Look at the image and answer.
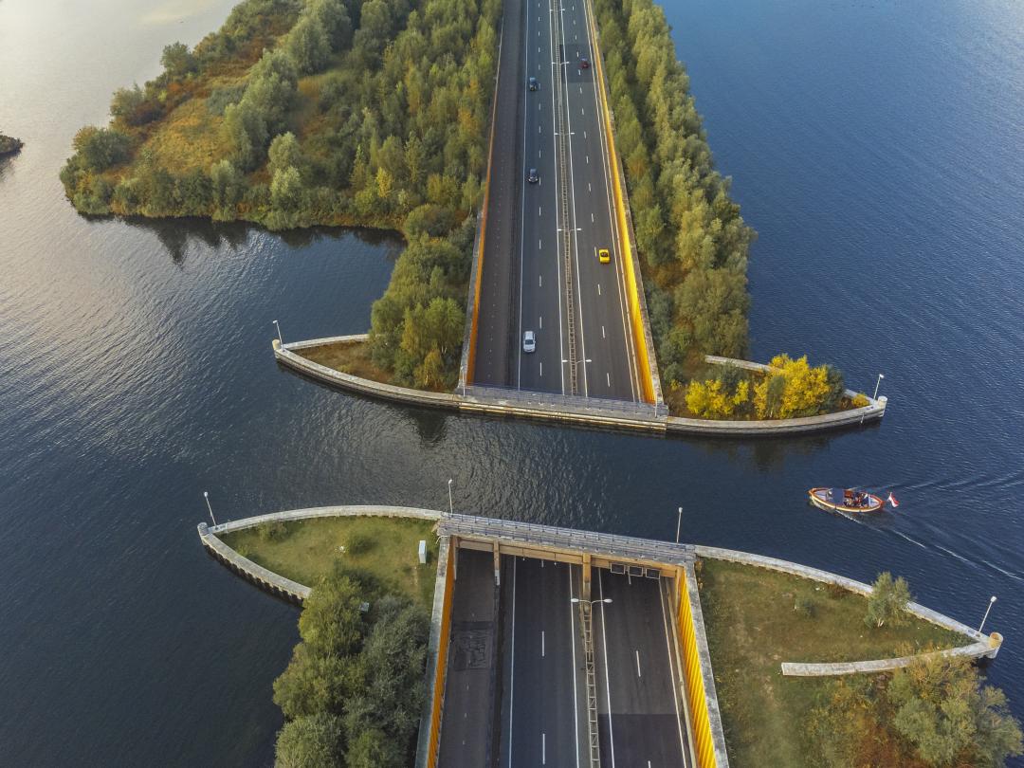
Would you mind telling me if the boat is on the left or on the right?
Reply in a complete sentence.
It is on the right.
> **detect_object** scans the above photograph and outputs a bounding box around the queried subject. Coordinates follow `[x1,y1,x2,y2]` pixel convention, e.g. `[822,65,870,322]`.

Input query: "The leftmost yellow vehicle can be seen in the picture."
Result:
[598,248,610,262]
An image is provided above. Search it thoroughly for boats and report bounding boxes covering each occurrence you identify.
[809,485,900,508]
